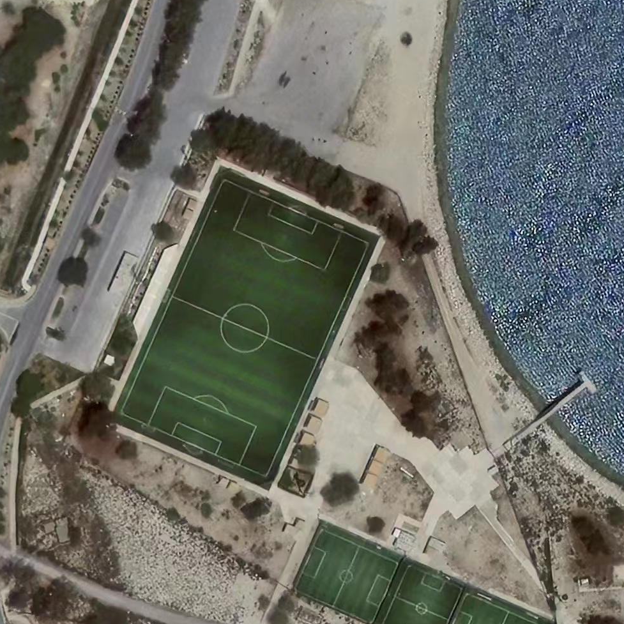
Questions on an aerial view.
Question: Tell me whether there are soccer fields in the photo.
Yes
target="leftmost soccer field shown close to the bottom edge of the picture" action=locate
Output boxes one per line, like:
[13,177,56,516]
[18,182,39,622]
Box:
[295,520,404,624]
